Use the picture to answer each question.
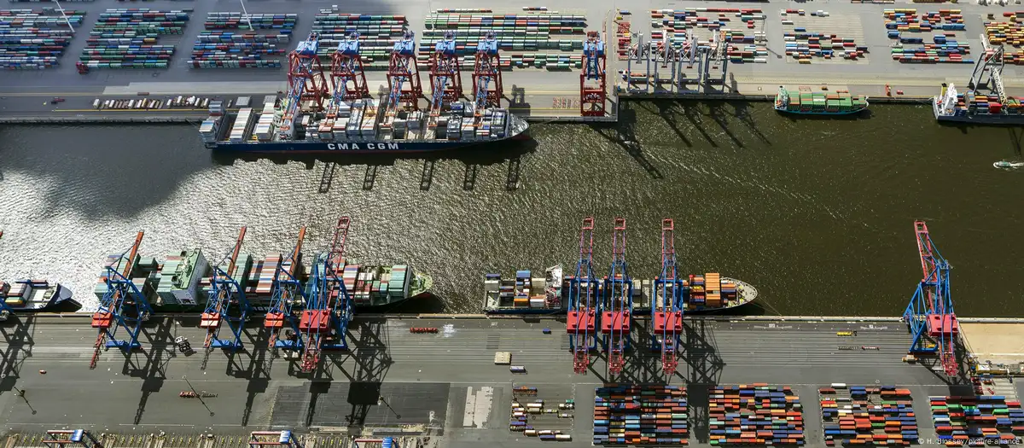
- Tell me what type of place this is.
port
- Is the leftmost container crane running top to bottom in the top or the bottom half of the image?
bottom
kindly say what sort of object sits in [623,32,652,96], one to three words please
container crane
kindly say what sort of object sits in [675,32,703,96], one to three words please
container crane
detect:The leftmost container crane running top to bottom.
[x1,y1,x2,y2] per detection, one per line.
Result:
[84,231,159,369]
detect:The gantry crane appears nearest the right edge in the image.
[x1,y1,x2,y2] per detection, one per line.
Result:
[964,30,1011,99]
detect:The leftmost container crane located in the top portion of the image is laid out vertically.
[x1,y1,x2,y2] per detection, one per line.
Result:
[270,31,326,132]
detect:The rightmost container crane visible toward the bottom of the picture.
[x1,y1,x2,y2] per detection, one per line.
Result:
[899,222,961,377]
